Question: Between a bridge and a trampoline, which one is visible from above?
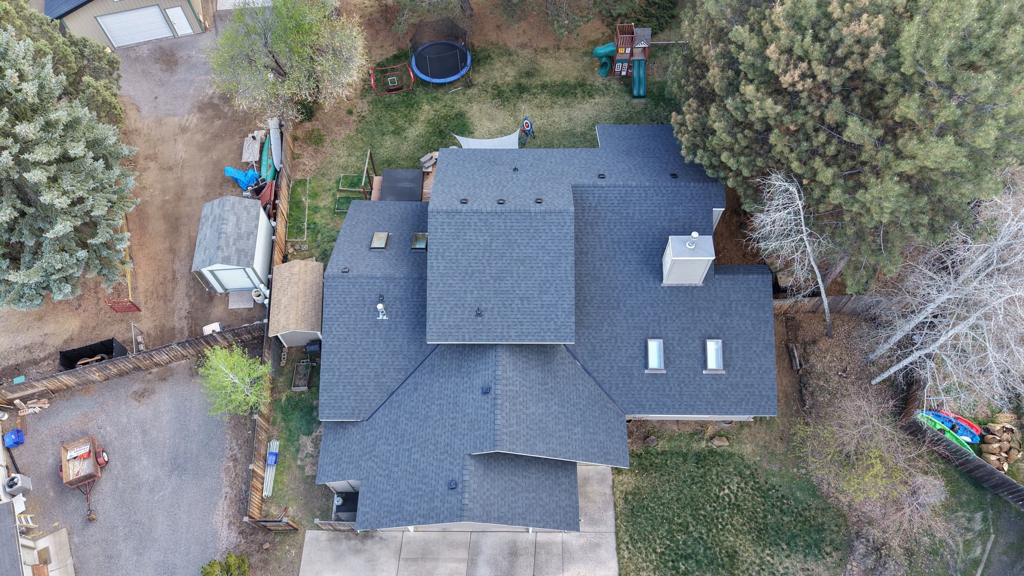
trampoline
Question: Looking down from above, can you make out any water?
No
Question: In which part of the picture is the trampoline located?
top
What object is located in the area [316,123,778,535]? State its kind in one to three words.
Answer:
house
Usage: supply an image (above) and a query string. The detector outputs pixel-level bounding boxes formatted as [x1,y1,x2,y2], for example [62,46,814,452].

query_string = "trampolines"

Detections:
[404,16,473,96]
